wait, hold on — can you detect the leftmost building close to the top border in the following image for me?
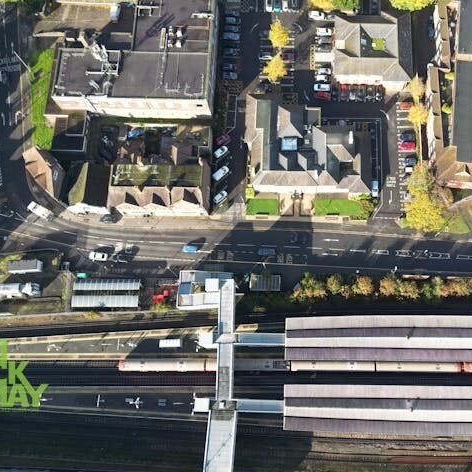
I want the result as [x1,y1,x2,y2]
[50,0,221,118]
